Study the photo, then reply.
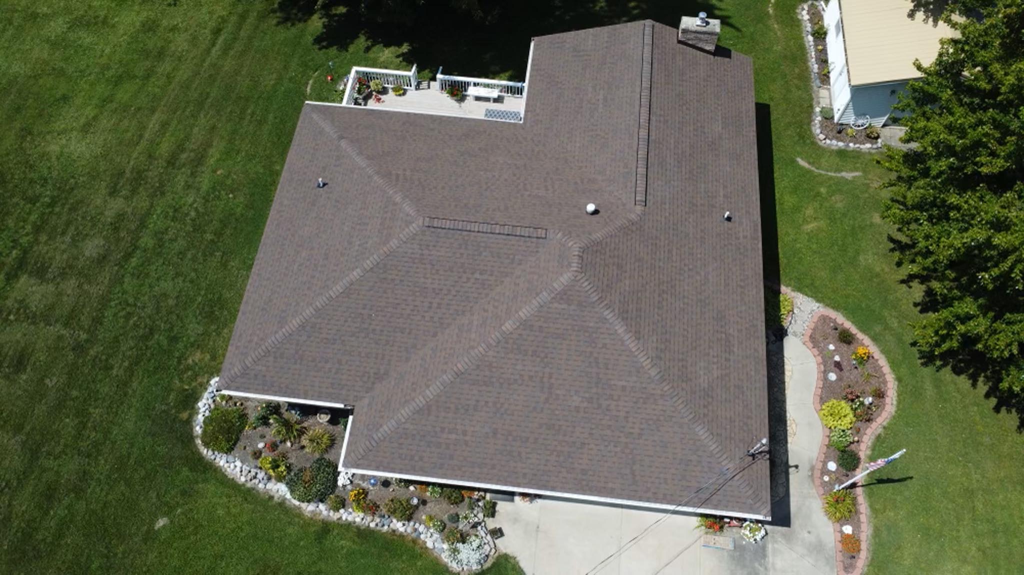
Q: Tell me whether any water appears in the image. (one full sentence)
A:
No, there is no water in the image.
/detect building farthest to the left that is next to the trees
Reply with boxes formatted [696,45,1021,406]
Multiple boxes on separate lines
[218,14,771,525]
